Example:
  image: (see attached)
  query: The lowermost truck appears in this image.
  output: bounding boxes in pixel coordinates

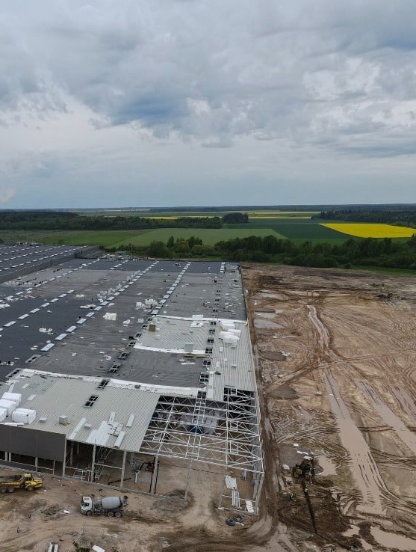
[79,496,130,518]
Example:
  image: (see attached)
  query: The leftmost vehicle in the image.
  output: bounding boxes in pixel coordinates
[0,471,44,494]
